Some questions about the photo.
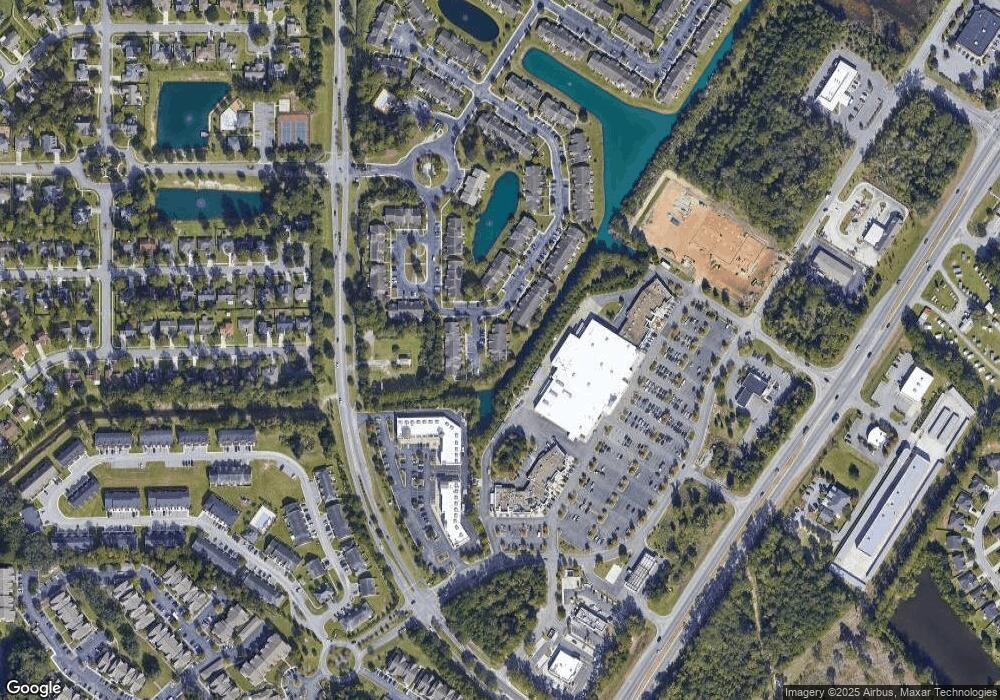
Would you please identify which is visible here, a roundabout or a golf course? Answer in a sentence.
It is a roundabout that can be seen here.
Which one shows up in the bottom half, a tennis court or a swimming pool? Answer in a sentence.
The one visible in the bottom half is a swimming pool.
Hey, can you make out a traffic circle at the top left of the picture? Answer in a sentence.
Yes, the scene does show a traffic circle at the top left of the picture.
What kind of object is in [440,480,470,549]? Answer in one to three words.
building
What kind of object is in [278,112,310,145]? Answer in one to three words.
tennis court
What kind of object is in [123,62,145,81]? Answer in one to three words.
house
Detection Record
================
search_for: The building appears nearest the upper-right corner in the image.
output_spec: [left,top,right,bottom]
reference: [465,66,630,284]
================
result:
[959,7,1000,57]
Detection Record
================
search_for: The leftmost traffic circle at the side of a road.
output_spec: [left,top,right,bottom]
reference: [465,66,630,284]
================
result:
[74,137,136,190]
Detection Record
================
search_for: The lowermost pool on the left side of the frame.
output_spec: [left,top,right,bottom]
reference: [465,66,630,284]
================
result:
[251,507,274,531]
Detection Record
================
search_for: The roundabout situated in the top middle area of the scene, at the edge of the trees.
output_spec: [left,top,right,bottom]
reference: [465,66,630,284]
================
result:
[404,143,457,195]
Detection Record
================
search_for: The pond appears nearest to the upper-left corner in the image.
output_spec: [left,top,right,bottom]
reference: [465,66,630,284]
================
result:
[156,80,233,148]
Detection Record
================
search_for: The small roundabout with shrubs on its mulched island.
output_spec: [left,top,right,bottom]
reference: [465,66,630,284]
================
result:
[321,639,362,680]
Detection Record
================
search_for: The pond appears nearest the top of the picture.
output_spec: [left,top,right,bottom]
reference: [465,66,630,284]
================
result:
[438,0,498,42]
